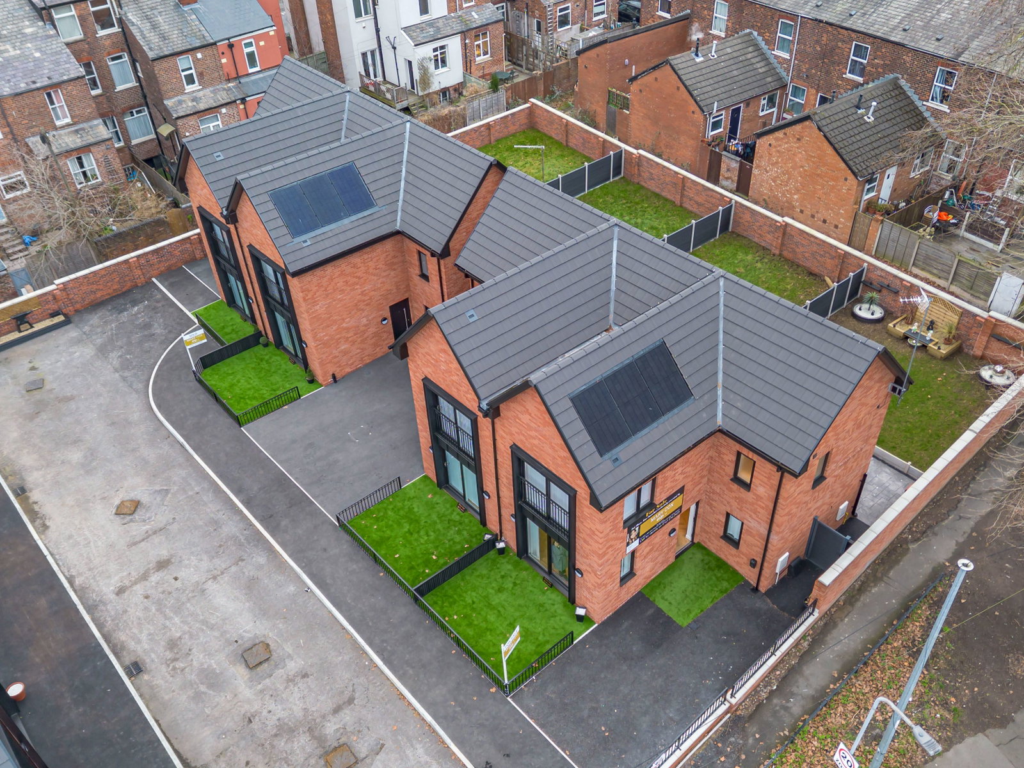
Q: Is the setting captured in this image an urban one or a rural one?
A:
urban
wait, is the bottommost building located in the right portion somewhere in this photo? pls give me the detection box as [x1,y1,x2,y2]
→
[387,165,915,622]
